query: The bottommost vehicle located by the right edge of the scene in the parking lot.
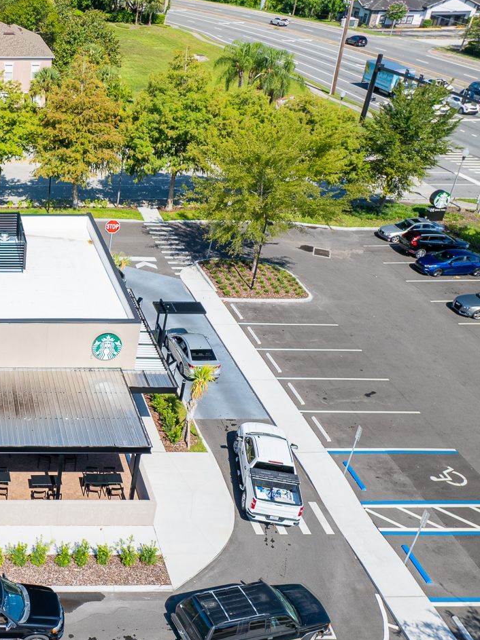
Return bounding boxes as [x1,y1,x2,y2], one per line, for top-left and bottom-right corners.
[448,284,480,318]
